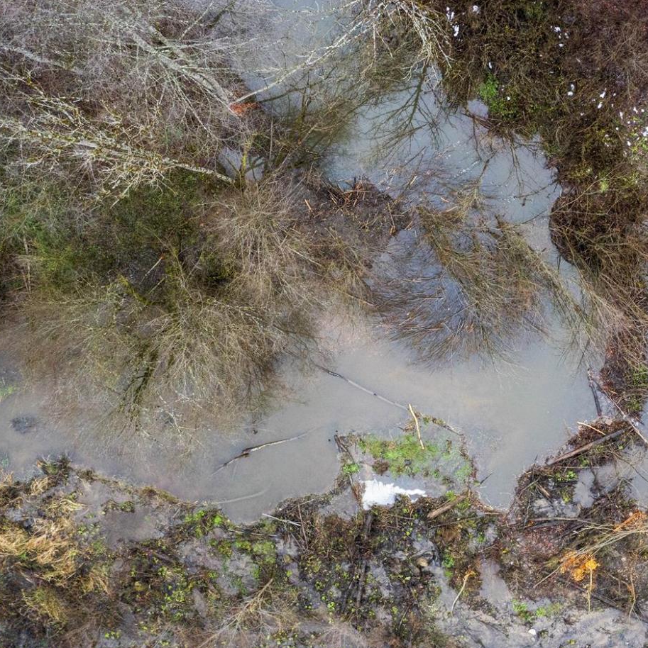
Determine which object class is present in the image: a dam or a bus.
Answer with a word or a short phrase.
dam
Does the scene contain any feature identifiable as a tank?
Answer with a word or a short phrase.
No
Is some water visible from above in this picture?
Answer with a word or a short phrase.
Yes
